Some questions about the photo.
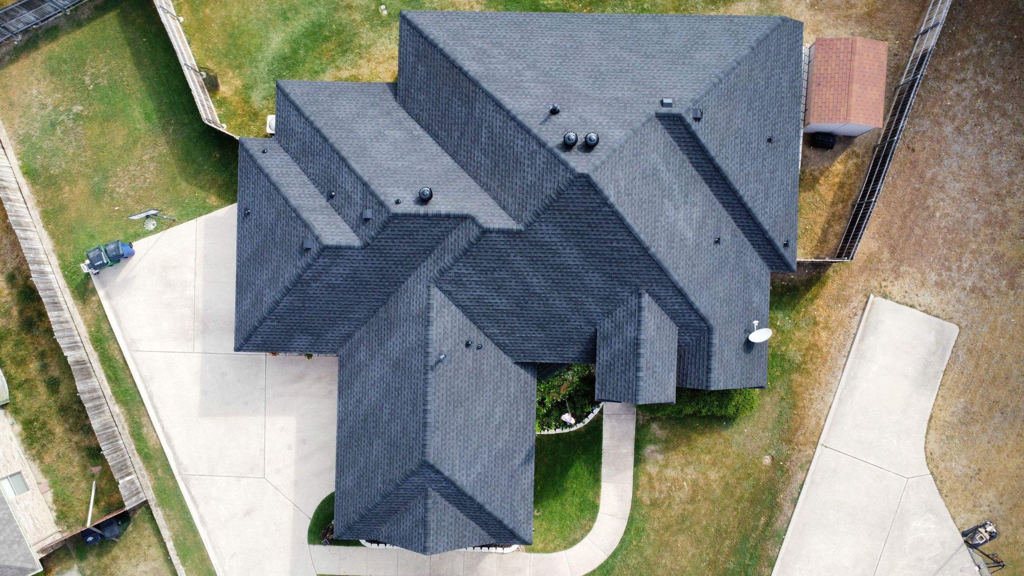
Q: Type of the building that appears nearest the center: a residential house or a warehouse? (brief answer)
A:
residential house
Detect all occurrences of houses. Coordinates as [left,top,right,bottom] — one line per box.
[232,8,807,560]
[0,404,61,576]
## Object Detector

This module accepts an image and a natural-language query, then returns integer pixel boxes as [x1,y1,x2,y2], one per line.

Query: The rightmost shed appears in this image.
[804,37,888,136]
